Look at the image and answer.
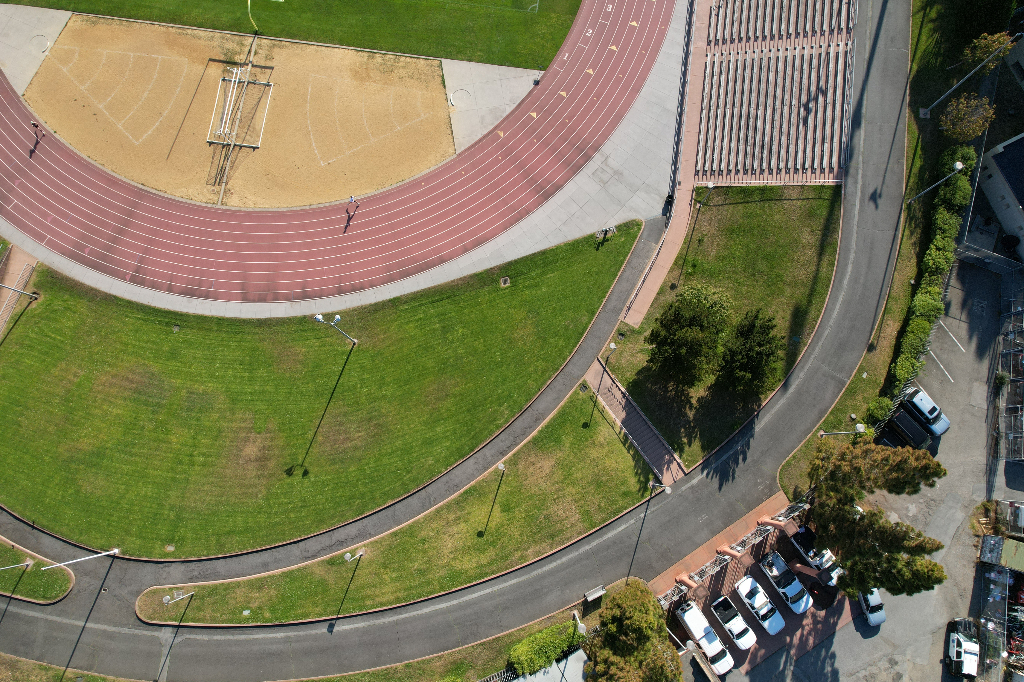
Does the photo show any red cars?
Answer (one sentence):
No, no red car is visible in the view.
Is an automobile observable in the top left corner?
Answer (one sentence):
No, no automobile appears in the top left corner.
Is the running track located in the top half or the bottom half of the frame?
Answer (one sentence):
The running track is in the top half of the image.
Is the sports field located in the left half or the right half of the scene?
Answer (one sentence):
You can find the sports field on the left side of the picture.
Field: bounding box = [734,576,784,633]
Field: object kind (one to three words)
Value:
car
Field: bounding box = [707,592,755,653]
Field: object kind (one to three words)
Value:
truck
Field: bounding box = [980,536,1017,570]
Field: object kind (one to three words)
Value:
shed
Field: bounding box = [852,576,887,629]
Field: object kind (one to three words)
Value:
car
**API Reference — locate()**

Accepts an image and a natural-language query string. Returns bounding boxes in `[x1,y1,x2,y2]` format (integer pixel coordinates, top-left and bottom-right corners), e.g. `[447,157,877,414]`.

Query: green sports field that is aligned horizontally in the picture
[0,0,576,70]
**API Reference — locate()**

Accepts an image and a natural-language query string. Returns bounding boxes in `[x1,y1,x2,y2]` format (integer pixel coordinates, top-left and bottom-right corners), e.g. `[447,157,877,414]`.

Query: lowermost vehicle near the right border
[943,617,980,679]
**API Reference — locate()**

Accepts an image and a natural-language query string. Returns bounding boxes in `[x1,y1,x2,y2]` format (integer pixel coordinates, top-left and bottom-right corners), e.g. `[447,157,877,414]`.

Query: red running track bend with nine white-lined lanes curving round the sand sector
[0,0,674,304]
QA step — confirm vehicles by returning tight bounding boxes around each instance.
[707,592,755,653]
[943,617,980,679]
[759,552,812,613]
[676,601,732,673]
[884,402,929,452]
[852,576,887,629]
[792,522,843,582]
[902,386,950,436]
[734,576,784,633]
